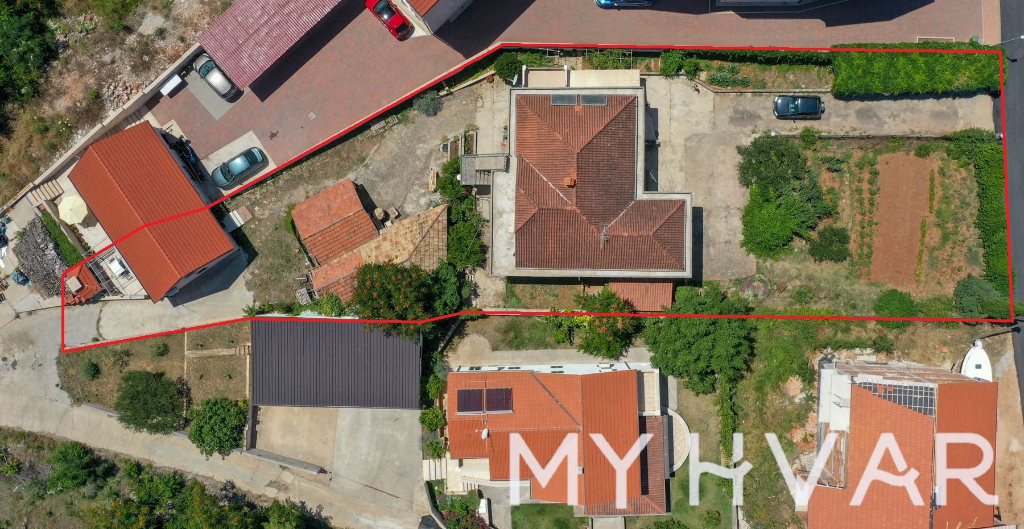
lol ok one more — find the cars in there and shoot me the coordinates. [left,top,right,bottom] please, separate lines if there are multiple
[596,0,654,8]
[364,0,415,42]
[208,144,268,190]
[191,50,238,105]
[774,91,829,119]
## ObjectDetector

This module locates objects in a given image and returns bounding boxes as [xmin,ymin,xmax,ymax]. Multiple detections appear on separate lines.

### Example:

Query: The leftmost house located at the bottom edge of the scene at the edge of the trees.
[447,359,669,521]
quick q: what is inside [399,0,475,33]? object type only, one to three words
house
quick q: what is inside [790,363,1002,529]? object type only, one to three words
house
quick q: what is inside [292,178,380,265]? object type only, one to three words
shed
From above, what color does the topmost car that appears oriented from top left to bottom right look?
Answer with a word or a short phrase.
red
